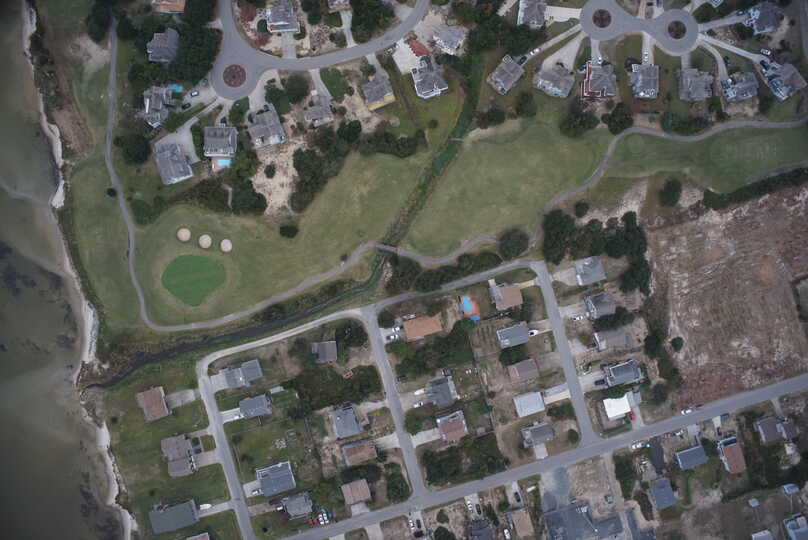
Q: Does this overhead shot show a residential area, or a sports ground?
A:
residential area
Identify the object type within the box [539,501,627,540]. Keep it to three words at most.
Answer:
building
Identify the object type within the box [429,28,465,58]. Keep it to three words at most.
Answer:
house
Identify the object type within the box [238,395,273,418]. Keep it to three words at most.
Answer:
house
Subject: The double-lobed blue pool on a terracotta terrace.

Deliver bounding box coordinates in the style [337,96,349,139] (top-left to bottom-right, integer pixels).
[462,295,480,317]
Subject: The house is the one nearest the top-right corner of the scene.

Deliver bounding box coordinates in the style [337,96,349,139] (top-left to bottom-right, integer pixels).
[744,2,784,39]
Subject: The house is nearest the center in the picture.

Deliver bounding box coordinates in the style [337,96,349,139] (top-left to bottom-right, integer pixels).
[404,313,442,339]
